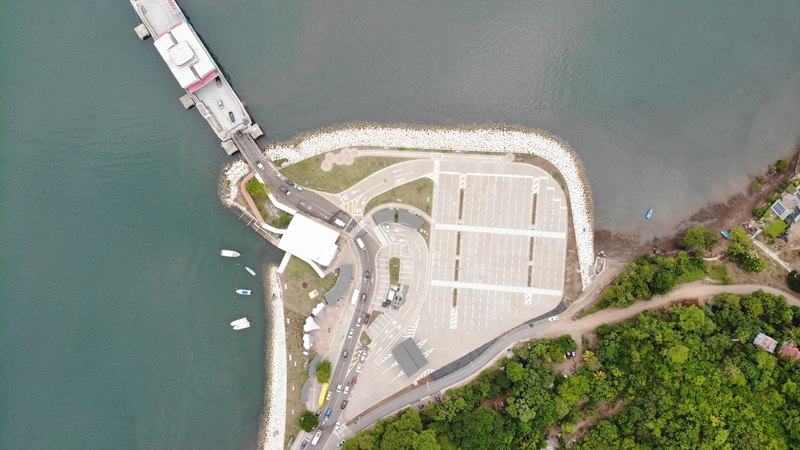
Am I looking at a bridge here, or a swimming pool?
bridge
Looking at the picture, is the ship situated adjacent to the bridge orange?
No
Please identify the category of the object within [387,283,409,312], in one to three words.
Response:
building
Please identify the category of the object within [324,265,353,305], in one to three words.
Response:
building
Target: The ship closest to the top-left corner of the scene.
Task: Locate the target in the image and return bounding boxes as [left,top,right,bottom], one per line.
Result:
[130,0,252,141]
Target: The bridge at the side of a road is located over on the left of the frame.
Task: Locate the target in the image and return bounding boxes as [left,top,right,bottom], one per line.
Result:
[230,130,270,172]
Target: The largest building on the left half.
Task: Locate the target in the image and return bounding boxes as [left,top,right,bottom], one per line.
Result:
[277,212,339,267]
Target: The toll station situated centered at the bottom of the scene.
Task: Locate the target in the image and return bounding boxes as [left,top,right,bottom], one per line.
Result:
[391,338,428,377]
